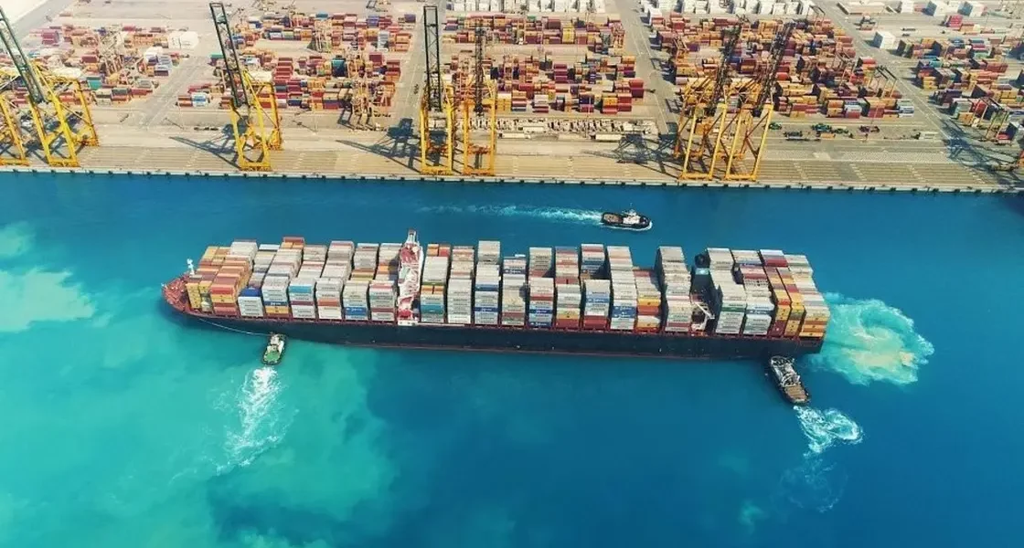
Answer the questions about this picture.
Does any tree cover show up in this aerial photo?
No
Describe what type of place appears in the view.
port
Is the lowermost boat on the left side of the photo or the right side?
right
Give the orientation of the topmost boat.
horizontally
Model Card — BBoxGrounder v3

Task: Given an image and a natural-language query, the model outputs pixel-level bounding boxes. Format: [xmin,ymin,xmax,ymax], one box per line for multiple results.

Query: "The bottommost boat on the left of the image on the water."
[262,330,284,366]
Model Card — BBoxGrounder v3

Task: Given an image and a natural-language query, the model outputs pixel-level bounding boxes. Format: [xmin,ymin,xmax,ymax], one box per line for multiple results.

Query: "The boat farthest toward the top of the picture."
[603,206,653,226]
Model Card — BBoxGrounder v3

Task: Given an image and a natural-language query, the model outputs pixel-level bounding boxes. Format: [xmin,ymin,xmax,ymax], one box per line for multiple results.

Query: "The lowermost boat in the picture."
[771,352,808,405]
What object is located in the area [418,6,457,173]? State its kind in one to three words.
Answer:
container crane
